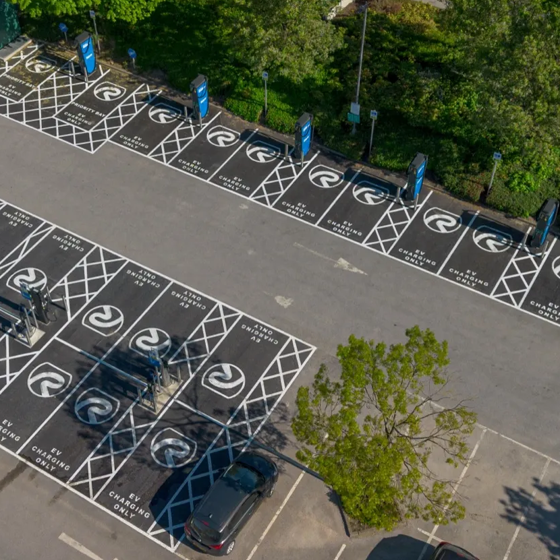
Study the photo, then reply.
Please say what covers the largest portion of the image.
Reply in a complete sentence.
The bulk of the photo consists of paved ground.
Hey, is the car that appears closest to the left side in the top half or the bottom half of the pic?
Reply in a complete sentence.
It is in the bottom half that the car that appears closest to the left side appears.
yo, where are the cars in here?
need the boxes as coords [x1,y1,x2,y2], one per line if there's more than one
[428,540,483,560]
[185,452,281,560]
